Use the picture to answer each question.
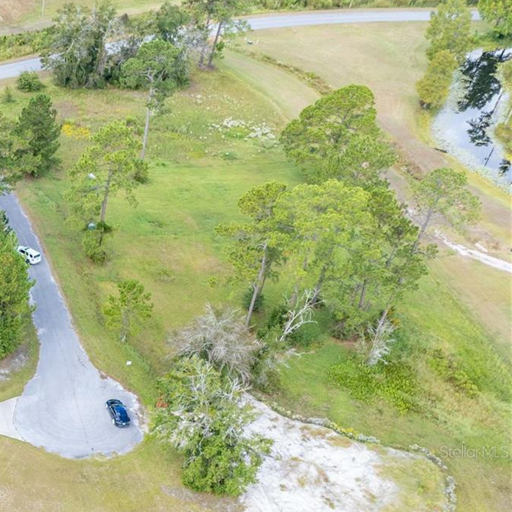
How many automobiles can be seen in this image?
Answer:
2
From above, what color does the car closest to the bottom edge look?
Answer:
blue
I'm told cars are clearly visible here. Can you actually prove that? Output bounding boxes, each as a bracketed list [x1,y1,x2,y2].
[19,246,44,267]
[104,400,134,428]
